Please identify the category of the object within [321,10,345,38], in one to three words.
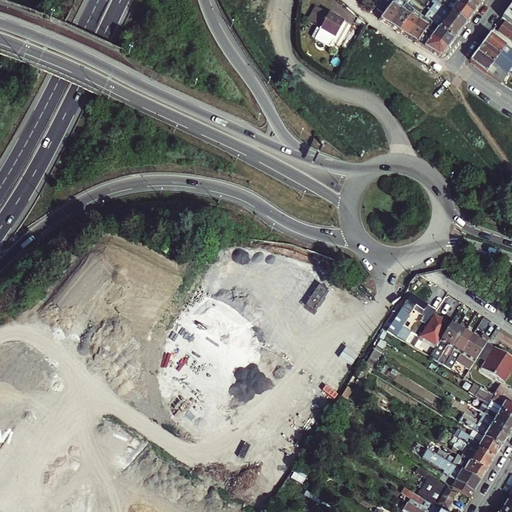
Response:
house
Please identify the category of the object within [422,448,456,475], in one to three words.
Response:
shed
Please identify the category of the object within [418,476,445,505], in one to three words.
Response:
building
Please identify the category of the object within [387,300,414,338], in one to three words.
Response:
house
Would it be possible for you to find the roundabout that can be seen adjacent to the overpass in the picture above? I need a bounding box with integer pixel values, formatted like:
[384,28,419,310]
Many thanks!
[330,151,463,271]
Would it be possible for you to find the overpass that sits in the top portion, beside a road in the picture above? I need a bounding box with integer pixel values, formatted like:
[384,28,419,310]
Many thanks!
[0,0,342,208]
